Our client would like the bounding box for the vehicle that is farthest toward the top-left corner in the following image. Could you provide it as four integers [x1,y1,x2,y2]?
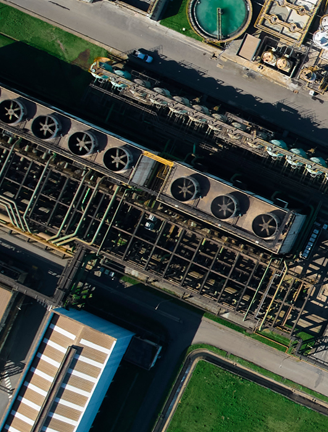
[132,49,152,62]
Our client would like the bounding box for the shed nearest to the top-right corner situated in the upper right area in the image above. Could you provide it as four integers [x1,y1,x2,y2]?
[240,34,263,58]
